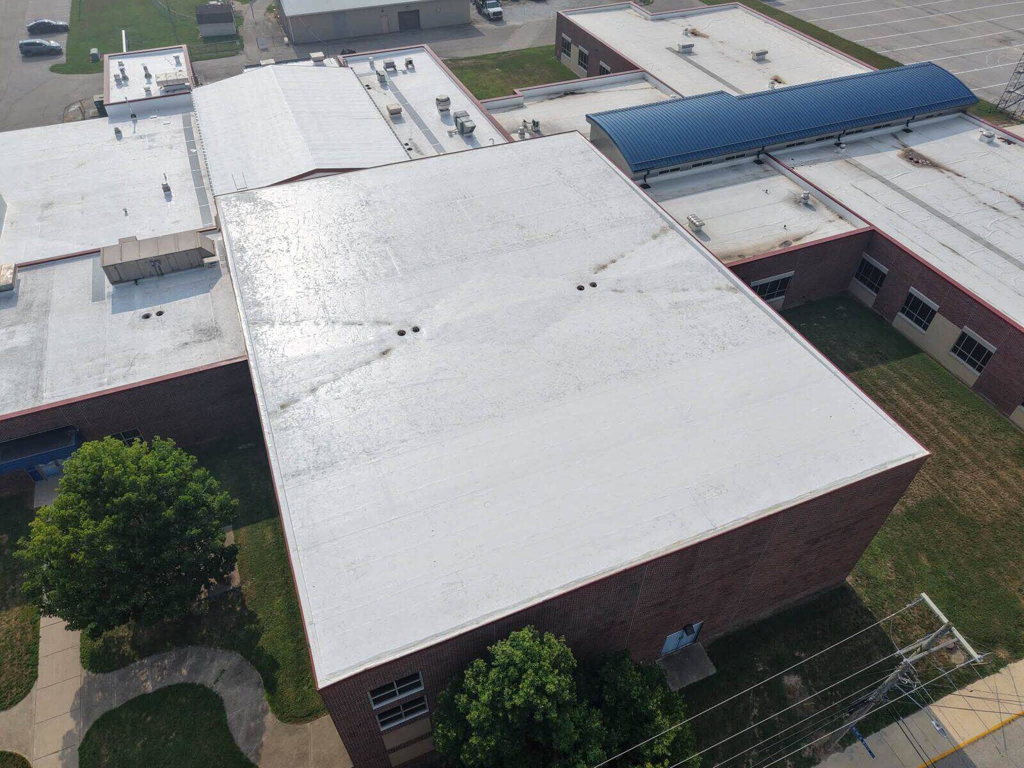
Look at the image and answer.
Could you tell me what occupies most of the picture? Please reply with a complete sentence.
The largest share of the image is taken up by buildings.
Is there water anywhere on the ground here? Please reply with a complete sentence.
No, water can't be seen anywhere here.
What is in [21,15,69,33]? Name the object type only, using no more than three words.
car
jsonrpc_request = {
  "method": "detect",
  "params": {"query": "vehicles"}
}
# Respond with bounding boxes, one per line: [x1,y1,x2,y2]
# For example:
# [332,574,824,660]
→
[476,0,502,16]
[12,35,62,56]
[21,15,69,33]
